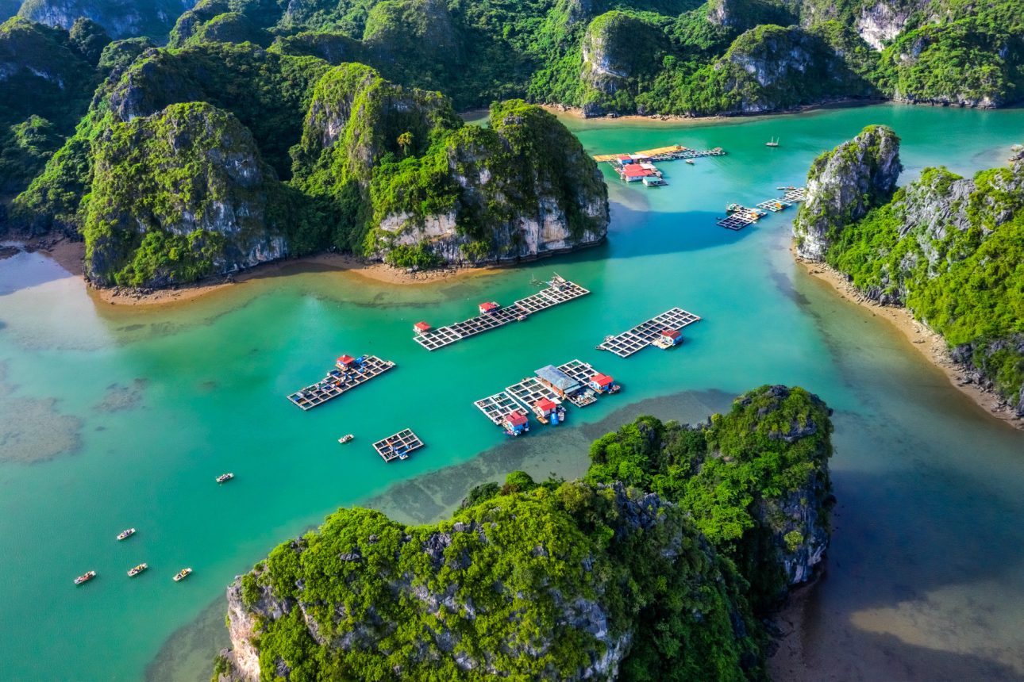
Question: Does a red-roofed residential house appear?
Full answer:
Yes, the image includes a red-roofed residential house.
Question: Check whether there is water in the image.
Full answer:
Yes, there is water in the image.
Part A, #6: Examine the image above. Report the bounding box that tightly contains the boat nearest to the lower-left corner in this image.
[71,570,98,585]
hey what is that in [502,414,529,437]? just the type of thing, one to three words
house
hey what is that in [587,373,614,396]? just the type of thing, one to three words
house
